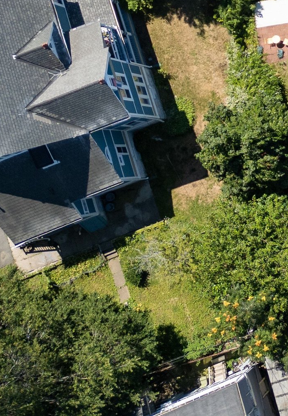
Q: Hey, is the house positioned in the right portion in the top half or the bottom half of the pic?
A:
bottom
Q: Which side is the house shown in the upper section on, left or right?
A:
left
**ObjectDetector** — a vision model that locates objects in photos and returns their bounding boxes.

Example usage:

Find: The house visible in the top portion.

[0,0,163,247]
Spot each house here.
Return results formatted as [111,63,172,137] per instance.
[145,361,271,416]
[0,0,163,247]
